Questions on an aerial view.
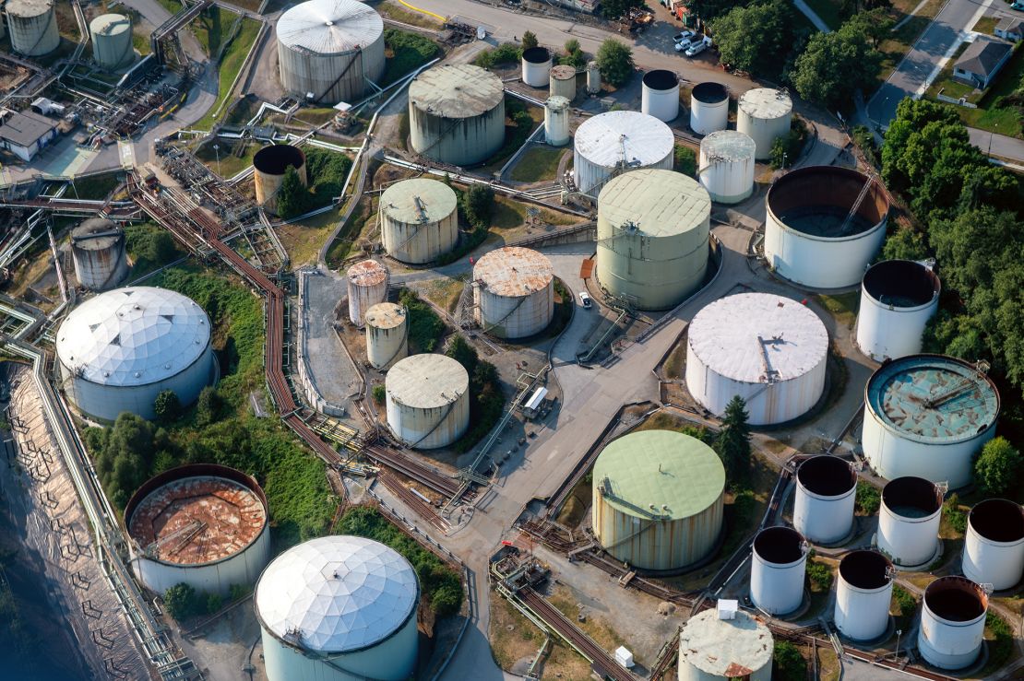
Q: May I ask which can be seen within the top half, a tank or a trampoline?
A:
tank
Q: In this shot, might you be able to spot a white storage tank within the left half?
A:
Yes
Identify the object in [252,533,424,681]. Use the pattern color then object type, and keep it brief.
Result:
white storage tank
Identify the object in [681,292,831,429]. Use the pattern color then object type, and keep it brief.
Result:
white storage tank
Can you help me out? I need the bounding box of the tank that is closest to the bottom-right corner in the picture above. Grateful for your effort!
[913,575,996,674]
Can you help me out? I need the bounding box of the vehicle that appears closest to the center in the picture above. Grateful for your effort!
[576,288,594,308]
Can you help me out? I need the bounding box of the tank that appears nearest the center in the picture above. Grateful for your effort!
[468,246,554,338]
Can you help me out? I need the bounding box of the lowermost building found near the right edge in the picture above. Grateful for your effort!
[951,34,1018,88]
